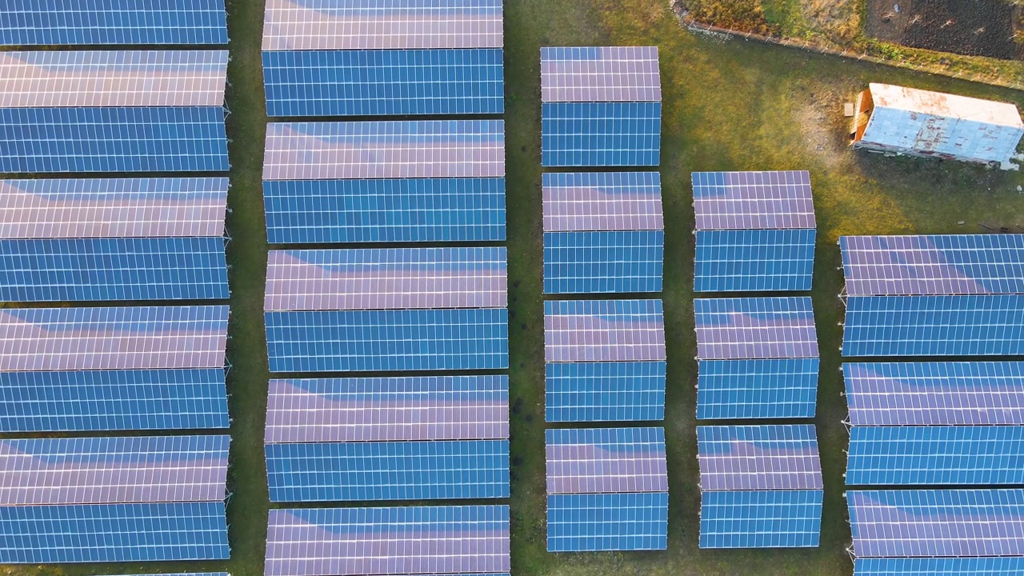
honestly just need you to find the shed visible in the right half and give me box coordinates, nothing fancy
[852,83,1024,166]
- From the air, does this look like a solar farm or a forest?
solar farm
